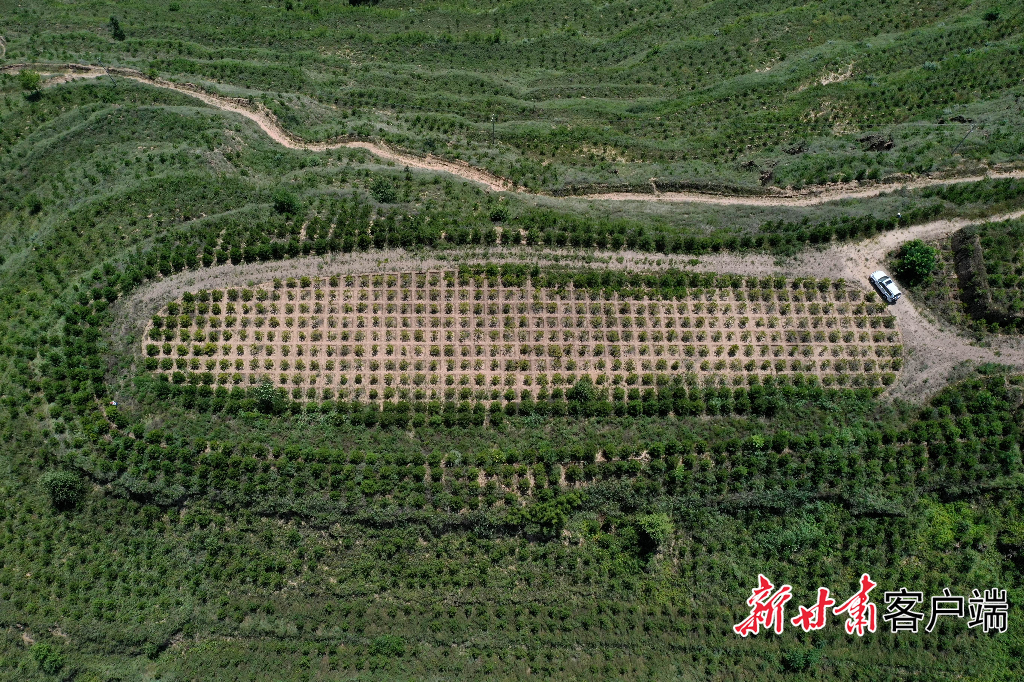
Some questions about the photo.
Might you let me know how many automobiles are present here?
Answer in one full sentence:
The photo contains exactly 1 automobile.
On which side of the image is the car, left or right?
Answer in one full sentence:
The car sits on the right side.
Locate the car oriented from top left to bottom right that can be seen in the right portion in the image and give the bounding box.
[868,269,905,302]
